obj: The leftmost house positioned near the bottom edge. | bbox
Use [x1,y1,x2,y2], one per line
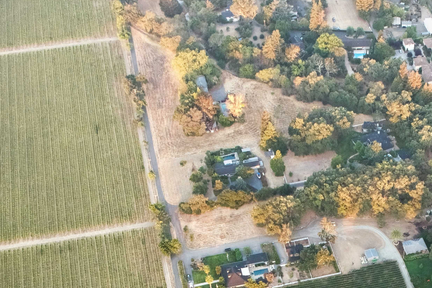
[222,252,271,288]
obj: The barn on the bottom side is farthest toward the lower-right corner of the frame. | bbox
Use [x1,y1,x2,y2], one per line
[400,238,429,256]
